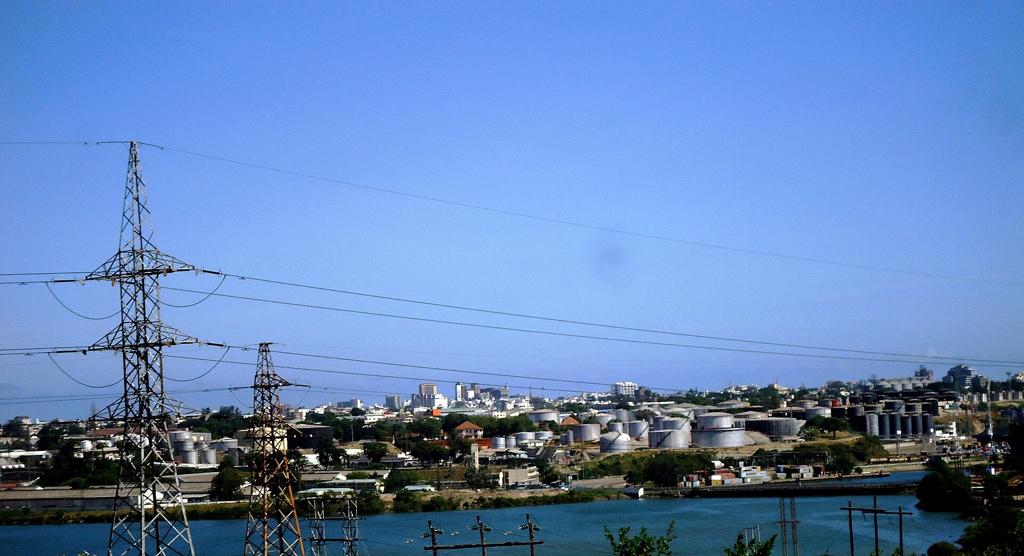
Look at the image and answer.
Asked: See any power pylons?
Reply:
Yes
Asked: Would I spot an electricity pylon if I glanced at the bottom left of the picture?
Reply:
Yes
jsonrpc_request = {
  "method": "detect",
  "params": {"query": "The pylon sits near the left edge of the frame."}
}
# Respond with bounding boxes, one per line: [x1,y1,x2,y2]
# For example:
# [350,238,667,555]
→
[32,142,248,556]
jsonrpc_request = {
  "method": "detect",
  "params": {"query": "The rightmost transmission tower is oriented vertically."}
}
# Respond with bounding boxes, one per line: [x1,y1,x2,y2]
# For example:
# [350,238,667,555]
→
[229,342,322,556]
